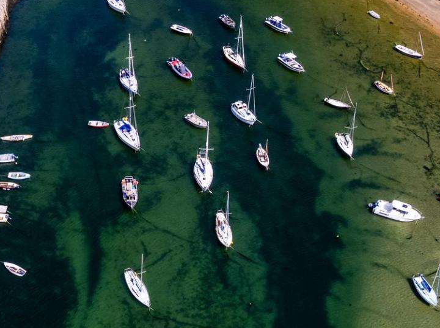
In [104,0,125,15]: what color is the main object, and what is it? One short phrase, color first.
white boat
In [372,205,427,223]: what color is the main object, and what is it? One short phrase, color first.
white boat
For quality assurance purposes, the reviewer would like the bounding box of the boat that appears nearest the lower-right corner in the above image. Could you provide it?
[411,259,440,313]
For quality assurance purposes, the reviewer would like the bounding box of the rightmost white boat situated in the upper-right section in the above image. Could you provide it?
[394,35,427,63]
